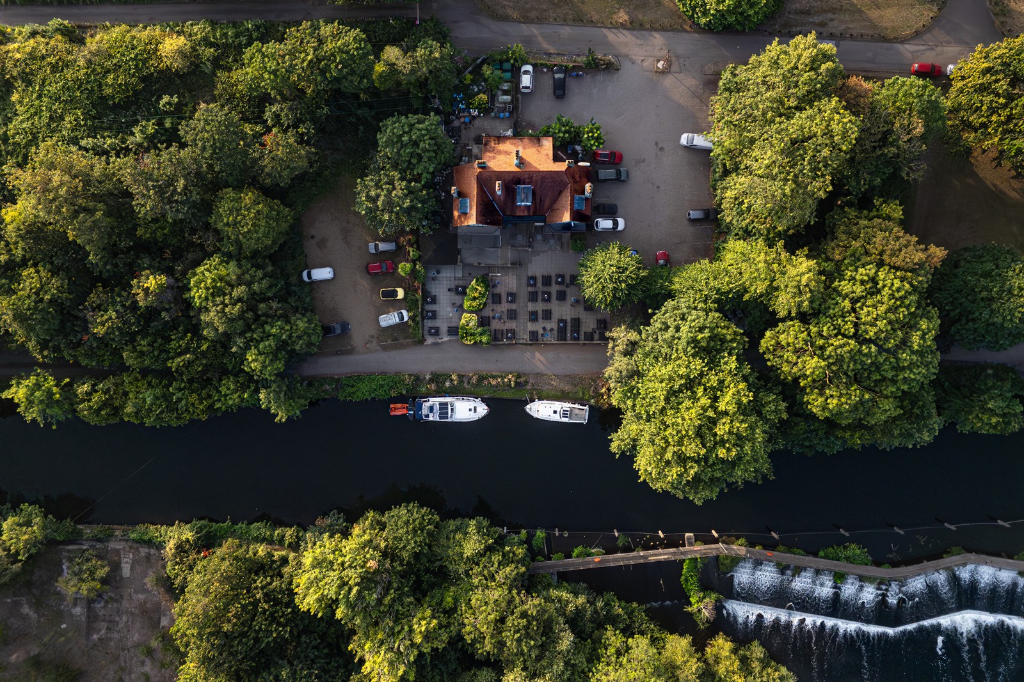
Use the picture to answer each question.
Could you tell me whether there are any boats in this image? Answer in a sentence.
Yes, a boat is visible in the scene.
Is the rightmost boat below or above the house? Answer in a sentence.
It's below the house that the rightmost boat shows up.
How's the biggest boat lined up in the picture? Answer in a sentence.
In this picture, the biggest boat lies from left to right.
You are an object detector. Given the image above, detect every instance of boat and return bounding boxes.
[525,402,589,425]
[390,403,407,415]
[416,397,489,422]
[407,398,416,420]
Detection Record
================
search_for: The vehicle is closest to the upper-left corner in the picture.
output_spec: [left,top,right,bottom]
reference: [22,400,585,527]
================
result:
[303,267,335,282]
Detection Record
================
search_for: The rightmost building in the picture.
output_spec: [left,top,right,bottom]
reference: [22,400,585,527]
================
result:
[451,136,592,265]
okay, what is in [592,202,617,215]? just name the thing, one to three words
vehicle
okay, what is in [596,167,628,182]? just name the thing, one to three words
car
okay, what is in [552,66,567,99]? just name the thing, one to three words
car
